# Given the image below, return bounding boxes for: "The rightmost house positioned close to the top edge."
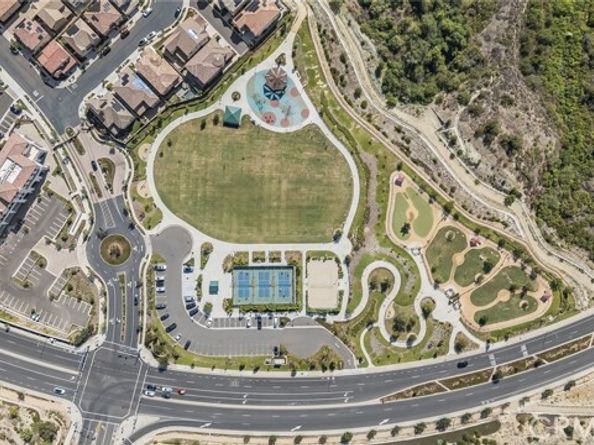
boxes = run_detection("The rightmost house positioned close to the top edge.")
[235,0,280,34]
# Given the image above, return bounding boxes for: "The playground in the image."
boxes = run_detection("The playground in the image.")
[247,68,309,128]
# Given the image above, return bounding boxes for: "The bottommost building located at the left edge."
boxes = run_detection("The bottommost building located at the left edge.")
[0,132,54,241]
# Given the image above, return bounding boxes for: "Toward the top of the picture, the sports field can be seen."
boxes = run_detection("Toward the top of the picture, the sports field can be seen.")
[154,110,354,245]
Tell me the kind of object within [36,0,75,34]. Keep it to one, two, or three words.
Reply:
house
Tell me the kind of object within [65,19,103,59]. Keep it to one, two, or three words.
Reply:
house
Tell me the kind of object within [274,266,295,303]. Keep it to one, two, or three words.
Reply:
sports court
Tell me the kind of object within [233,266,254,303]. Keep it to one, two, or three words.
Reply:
sports court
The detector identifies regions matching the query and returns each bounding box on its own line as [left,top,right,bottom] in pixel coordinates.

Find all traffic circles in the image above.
[99,234,131,266]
